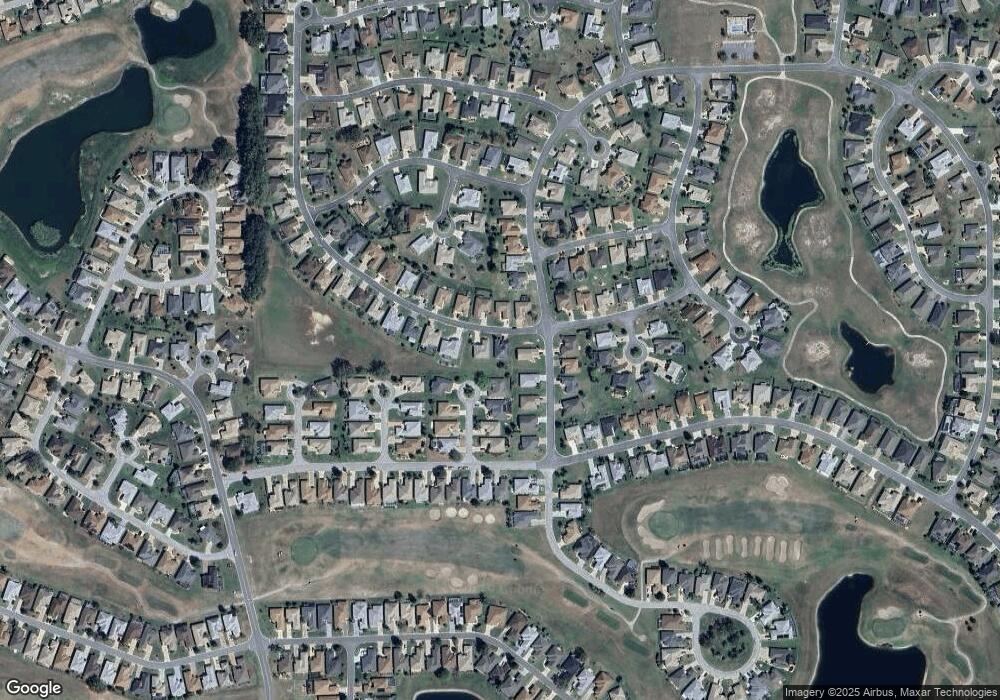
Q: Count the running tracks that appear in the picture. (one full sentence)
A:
No running tracks are visible.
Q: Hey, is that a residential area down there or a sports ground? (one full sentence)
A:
This image shows a residential area.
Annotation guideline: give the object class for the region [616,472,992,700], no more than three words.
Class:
golf course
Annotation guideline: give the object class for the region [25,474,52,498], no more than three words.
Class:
house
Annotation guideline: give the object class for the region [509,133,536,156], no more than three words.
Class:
house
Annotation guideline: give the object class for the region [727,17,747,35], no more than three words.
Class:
swimming pool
